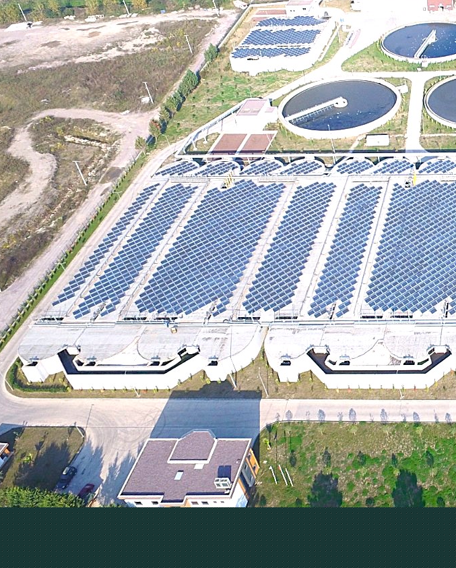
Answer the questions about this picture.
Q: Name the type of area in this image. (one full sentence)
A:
The picture captures an industrial area.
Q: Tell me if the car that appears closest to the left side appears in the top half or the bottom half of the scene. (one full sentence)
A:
The car that appears closest to the left side sits in the bottom half of the picture.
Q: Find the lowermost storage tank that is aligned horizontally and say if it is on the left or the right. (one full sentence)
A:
The lowermost storage tank that is aligned horizontally is on the right side of the image.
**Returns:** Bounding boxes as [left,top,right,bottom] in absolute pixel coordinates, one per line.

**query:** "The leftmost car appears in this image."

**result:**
[51,462,80,487]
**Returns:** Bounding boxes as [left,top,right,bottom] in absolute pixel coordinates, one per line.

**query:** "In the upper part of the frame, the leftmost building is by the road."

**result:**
[234,100,281,130]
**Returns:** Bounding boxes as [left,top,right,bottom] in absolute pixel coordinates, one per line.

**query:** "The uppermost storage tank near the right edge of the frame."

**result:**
[380,22,456,64]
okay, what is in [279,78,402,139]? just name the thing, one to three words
storage tank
